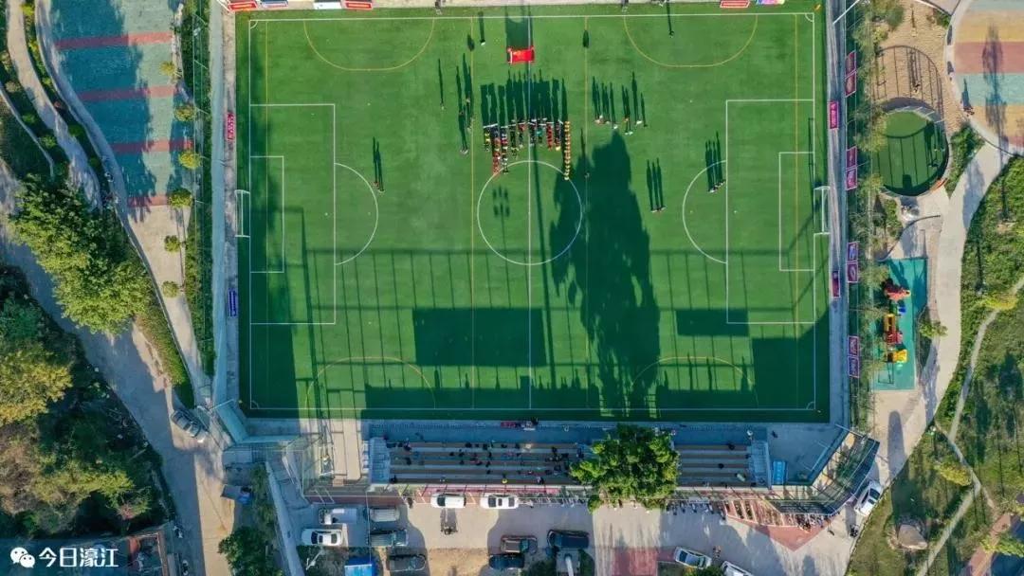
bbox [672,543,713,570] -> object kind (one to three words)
car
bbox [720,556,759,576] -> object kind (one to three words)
car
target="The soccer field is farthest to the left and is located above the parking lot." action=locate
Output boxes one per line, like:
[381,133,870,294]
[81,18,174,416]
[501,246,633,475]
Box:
[236,3,831,421]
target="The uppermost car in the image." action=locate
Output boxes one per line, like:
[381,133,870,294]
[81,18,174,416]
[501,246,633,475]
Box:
[169,408,205,439]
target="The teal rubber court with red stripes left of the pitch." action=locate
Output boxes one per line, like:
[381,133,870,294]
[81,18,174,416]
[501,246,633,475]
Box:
[51,0,199,206]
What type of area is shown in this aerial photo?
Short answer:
sports ground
